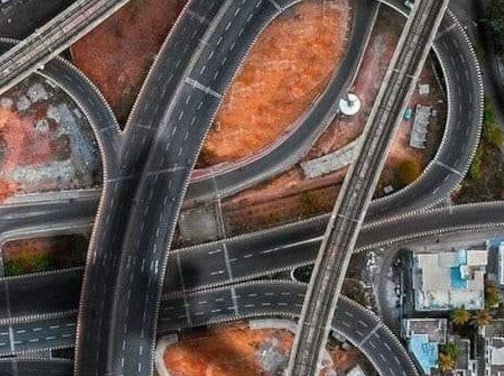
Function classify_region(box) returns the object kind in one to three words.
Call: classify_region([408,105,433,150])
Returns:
shed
